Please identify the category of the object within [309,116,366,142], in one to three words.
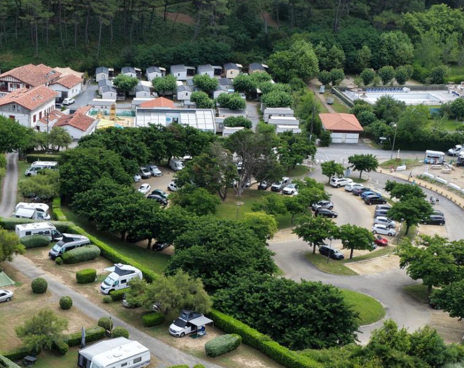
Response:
building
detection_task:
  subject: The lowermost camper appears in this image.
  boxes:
[79,331,154,368]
